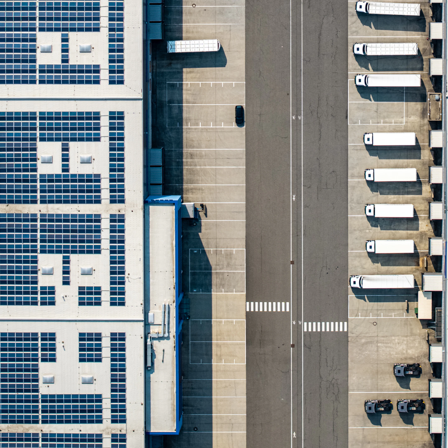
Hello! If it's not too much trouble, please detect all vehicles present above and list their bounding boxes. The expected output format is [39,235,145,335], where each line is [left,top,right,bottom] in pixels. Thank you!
[348,274,414,288]
[365,398,391,414]
[364,202,414,217]
[354,73,421,87]
[363,168,417,180]
[355,0,420,16]
[234,106,244,124]
[394,362,419,377]
[353,41,418,55]
[364,239,414,253]
[362,131,416,145]
[397,397,423,413]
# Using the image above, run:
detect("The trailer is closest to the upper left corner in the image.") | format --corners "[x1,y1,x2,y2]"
[168,38,221,53]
